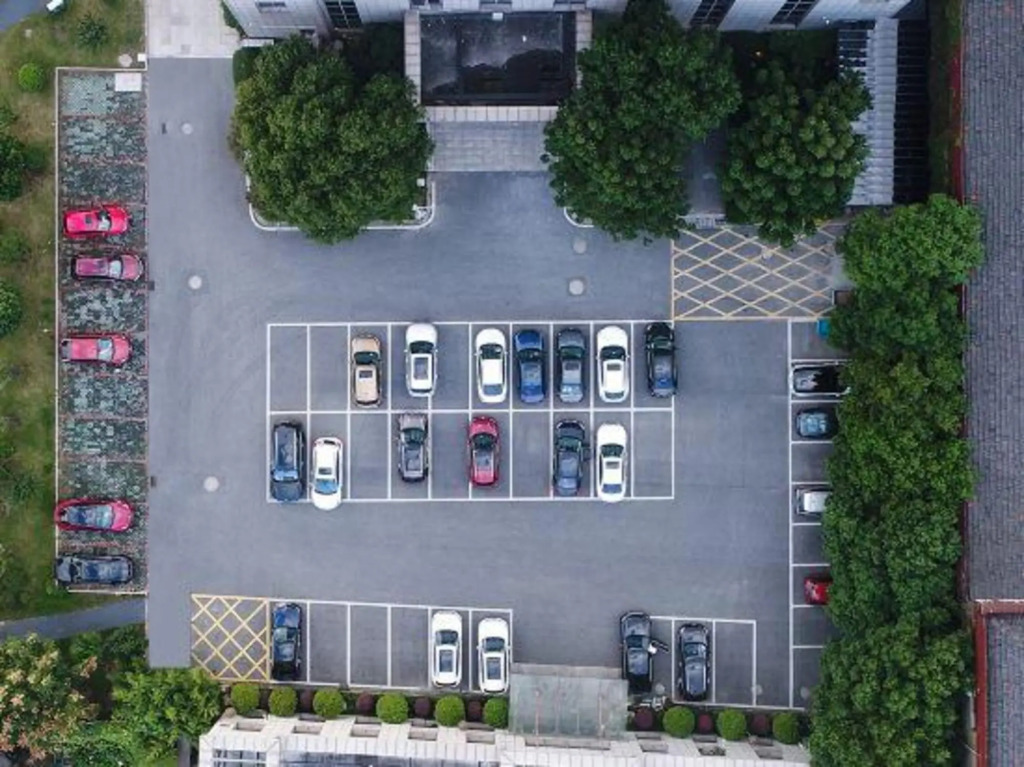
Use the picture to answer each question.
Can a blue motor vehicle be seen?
Yes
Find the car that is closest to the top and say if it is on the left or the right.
left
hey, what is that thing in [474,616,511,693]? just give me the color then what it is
white car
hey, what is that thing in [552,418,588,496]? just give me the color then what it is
blue car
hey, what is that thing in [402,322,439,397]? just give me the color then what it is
white car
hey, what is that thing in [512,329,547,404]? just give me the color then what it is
blue car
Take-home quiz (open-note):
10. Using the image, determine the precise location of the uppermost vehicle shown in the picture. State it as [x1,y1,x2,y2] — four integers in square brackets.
[62,204,132,240]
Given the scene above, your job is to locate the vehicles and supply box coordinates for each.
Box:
[638,695,667,708]
[618,611,666,694]
[552,418,588,496]
[553,329,588,404]
[60,332,133,367]
[594,422,629,502]
[428,610,464,687]
[792,408,859,439]
[62,204,132,240]
[267,600,305,681]
[643,322,679,399]
[308,435,344,511]
[473,328,509,404]
[466,414,503,487]
[402,322,439,397]
[793,484,853,516]
[68,249,145,285]
[595,325,630,403]
[674,622,711,700]
[269,421,307,501]
[348,334,384,406]
[512,329,547,404]
[55,498,136,534]
[788,364,859,397]
[394,410,431,483]
[474,616,511,693]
